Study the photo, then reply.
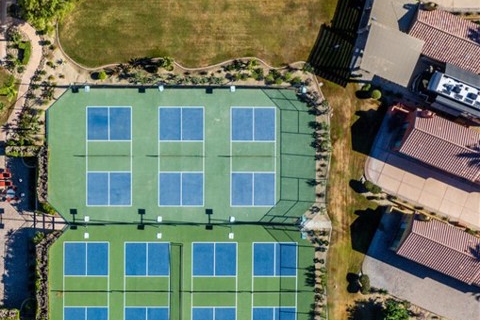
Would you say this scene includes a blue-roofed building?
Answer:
No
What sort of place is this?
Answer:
sports ground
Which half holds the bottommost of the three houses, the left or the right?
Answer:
right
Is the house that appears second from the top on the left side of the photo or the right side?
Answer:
right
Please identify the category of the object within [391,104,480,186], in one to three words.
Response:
house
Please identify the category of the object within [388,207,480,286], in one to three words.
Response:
house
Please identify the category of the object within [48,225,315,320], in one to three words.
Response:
sports court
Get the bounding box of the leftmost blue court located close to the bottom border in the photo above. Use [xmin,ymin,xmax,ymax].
[62,241,112,320]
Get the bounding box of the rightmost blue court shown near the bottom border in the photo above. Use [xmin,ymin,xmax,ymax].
[252,241,302,320]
